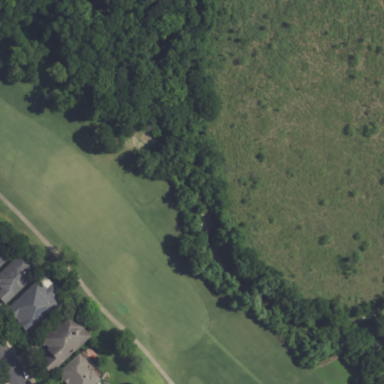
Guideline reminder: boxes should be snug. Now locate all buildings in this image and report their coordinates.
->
[12,284,57,328]
[48,318,89,370]
[0,261,35,304]
[62,356,100,384]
